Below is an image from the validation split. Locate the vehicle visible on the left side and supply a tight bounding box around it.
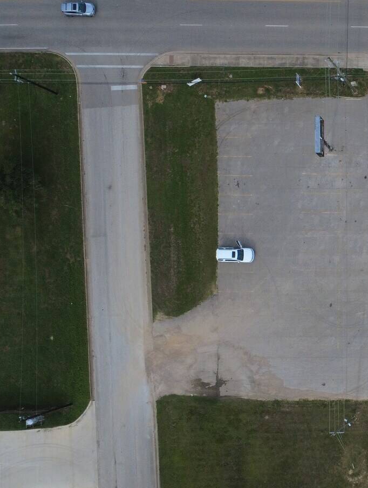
[59,1,97,17]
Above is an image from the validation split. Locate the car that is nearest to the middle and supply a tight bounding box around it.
[216,241,255,263]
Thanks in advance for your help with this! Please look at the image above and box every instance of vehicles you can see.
[59,1,97,17]
[216,241,255,263]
